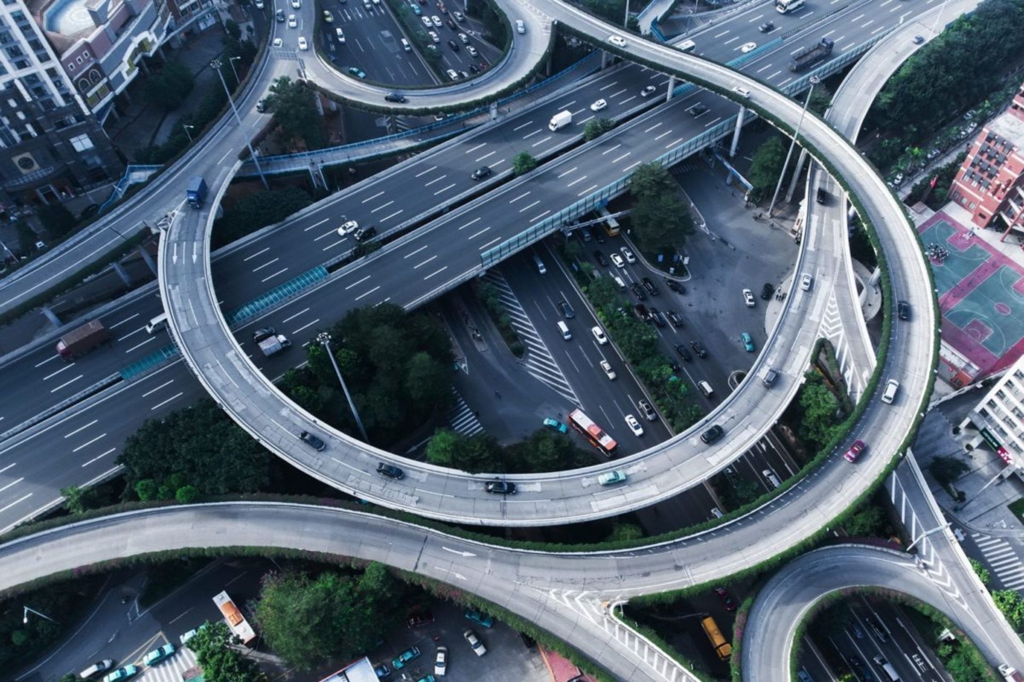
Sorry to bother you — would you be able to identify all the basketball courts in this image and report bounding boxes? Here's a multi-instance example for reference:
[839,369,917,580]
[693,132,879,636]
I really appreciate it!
[922,220,995,298]
[943,264,1024,357]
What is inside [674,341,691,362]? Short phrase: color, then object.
black car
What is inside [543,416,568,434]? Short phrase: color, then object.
blue car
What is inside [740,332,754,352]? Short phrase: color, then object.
blue car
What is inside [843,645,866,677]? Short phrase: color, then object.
black car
